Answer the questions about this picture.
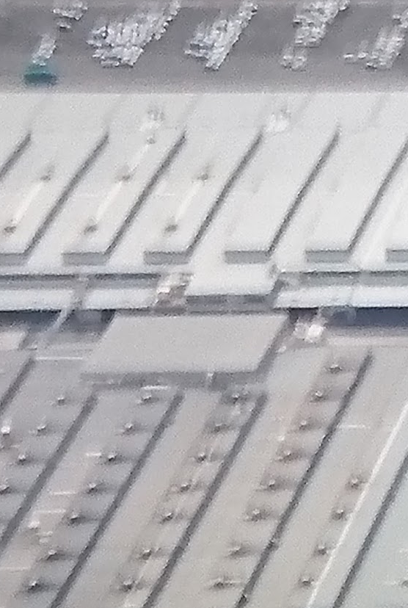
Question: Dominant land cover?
buildings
